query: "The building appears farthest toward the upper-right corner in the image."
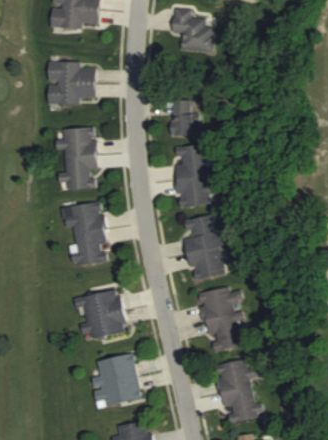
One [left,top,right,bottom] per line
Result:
[170,9,216,54]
